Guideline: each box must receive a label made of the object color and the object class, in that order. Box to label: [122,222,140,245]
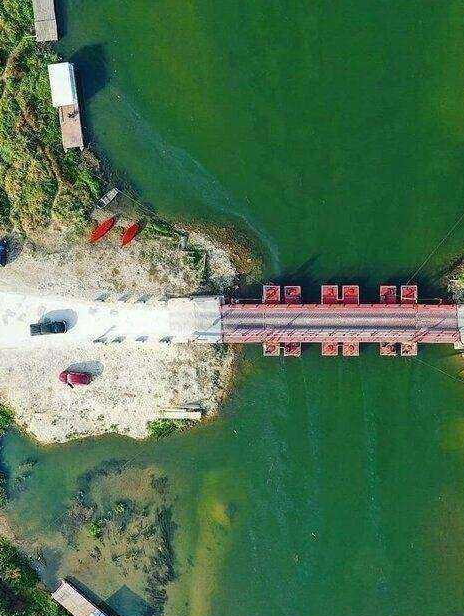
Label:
red boat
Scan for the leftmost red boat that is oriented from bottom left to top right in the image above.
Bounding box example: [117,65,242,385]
[90,216,117,242]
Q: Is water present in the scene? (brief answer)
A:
Yes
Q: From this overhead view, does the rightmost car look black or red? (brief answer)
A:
red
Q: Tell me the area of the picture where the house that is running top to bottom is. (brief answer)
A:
top left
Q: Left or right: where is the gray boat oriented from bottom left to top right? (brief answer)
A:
left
